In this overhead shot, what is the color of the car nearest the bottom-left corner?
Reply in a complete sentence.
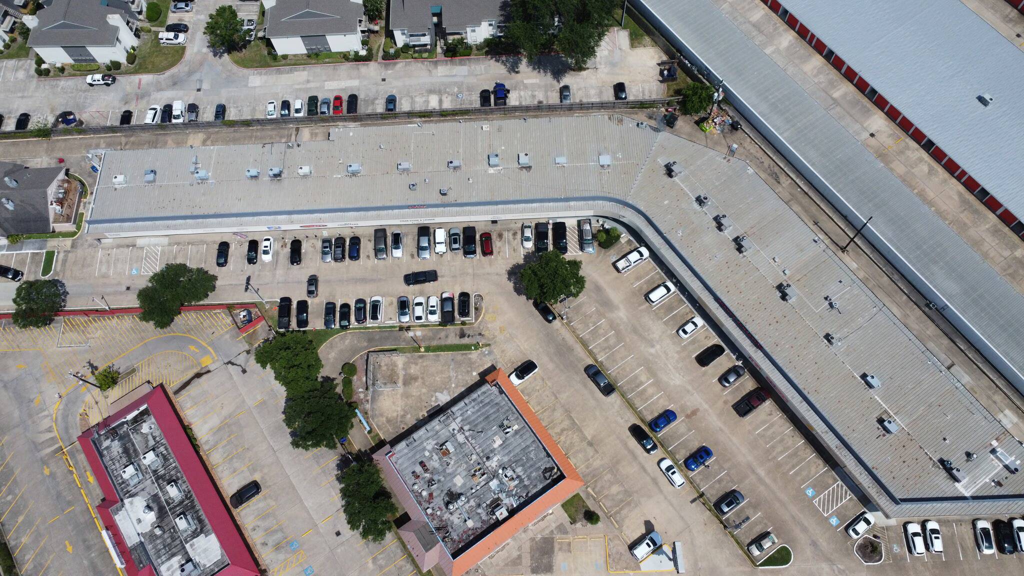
The car nearest the bottom-left corner is black.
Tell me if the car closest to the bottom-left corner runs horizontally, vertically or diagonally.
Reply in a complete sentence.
The car closest to the bottom-left corner is oriented diagonally.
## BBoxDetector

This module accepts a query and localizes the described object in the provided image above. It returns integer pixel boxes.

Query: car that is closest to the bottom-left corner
[230,479,263,509]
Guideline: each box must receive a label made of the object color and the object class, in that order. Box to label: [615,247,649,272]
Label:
white truck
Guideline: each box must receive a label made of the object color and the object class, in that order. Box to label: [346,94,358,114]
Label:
black vehicle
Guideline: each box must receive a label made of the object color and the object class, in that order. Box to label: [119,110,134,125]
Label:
black car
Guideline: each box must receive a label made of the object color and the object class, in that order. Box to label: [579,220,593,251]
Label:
gray vehicle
